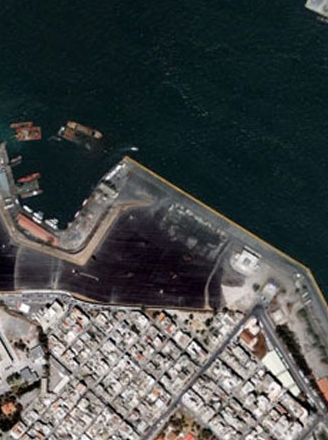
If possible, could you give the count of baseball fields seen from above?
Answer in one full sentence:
The picture shows no baseball fields.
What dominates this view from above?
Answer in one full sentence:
What you mostly see from above here is water.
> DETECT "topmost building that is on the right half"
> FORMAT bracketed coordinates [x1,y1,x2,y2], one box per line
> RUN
[235,252,258,275]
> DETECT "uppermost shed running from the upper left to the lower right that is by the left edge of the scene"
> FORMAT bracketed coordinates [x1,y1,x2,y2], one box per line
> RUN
[16,214,59,245]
